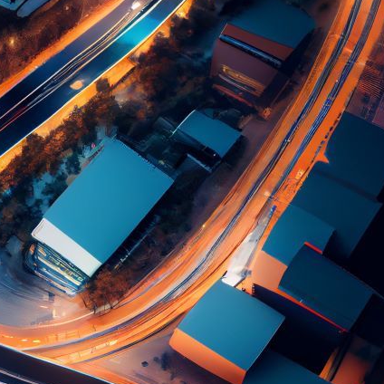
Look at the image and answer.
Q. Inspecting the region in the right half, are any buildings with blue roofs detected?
Yes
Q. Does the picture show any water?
No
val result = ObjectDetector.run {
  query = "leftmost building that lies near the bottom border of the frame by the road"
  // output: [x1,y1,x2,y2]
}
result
[160,279,284,384]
